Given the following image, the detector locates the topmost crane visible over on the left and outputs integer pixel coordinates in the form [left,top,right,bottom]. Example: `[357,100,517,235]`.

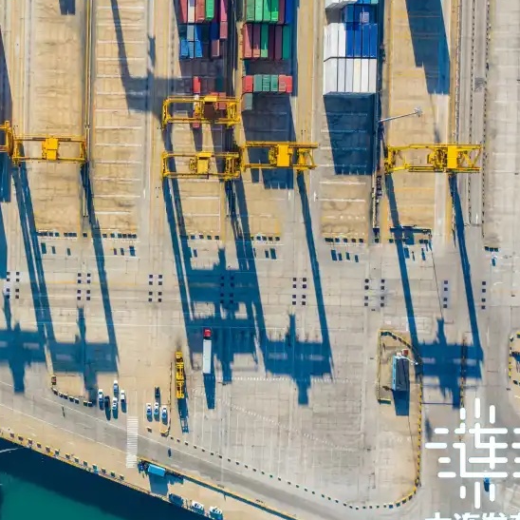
[158,95,244,131]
